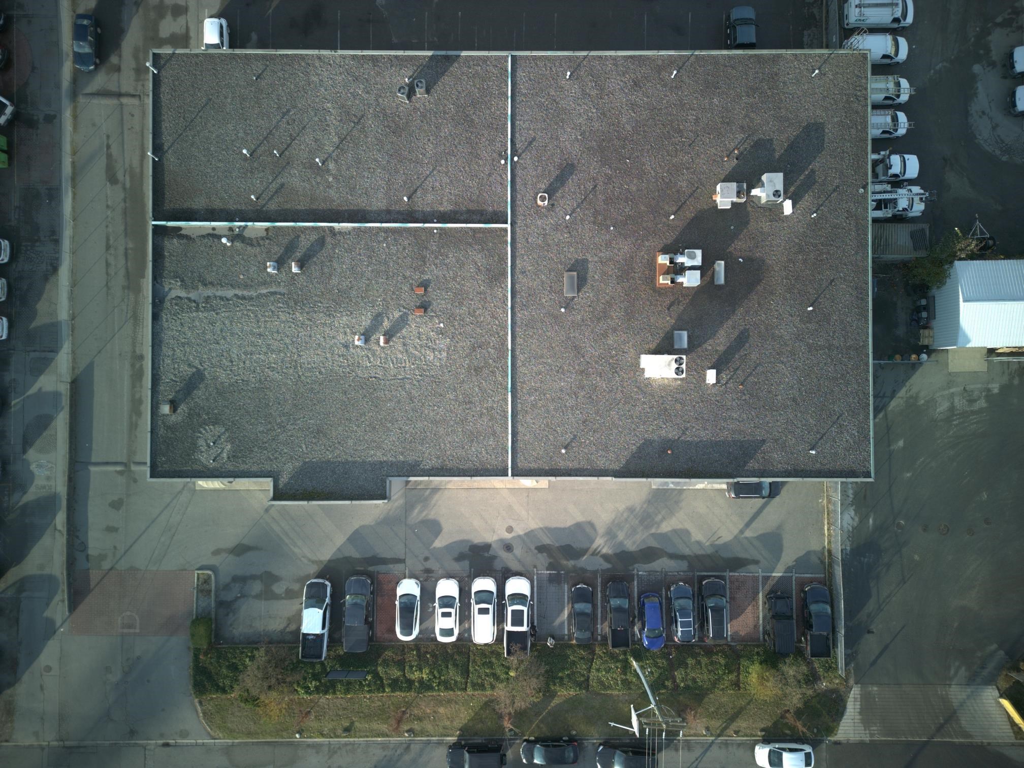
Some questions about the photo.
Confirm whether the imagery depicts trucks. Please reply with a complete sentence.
Yes, a truck can be made out from above.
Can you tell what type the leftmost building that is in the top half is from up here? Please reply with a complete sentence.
In the photo, the leftmost building that is in the top half shows up as a warehouse.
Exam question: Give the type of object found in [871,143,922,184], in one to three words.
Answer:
truck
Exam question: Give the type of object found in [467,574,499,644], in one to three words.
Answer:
car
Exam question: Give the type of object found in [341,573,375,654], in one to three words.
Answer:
truck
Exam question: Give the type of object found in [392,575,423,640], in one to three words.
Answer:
car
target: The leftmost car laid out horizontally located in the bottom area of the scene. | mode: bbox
[445,739,505,768]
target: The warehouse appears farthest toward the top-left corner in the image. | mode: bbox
[148,49,874,504]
